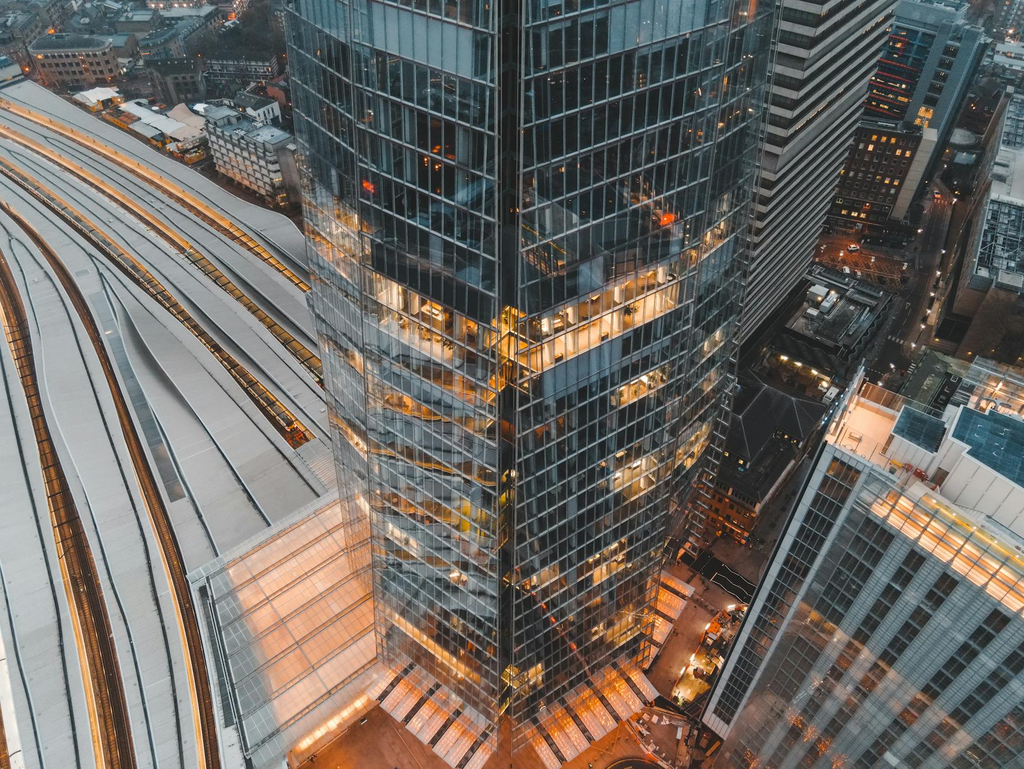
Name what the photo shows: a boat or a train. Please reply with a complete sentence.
This aerial view contains a train.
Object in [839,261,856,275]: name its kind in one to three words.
vehicle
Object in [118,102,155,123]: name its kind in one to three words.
tent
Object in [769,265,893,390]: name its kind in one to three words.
building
